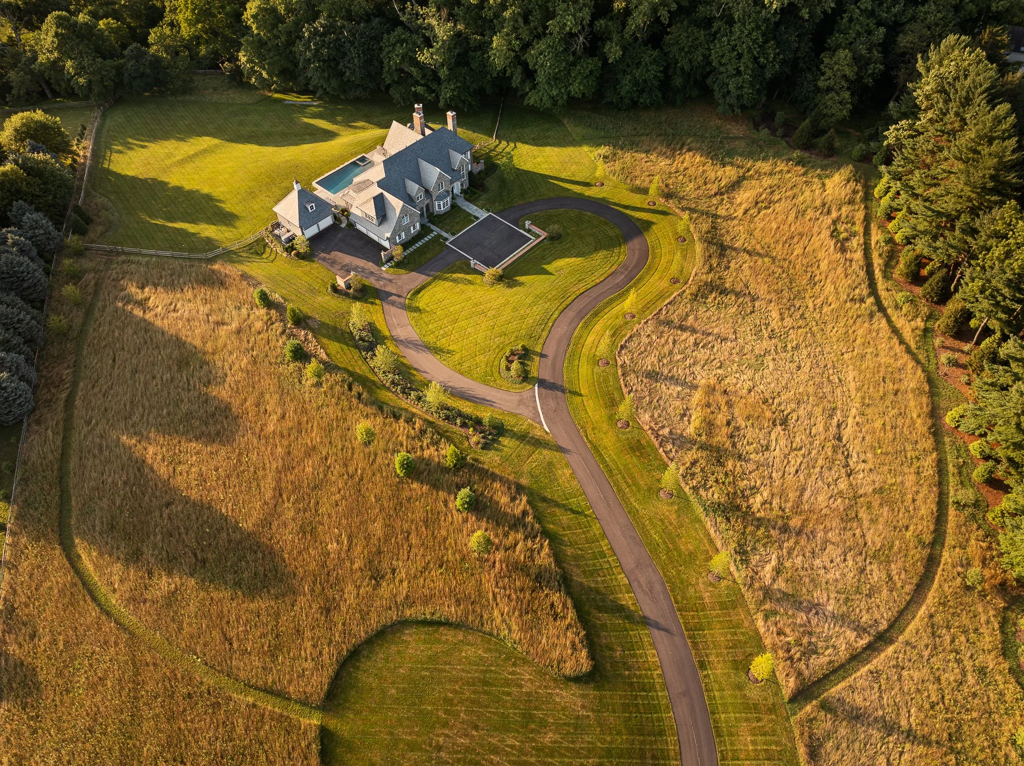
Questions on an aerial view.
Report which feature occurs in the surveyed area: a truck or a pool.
pool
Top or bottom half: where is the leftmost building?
top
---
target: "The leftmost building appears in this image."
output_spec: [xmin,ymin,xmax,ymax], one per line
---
[270,175,335,238]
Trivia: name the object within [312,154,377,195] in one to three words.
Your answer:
swimming pool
